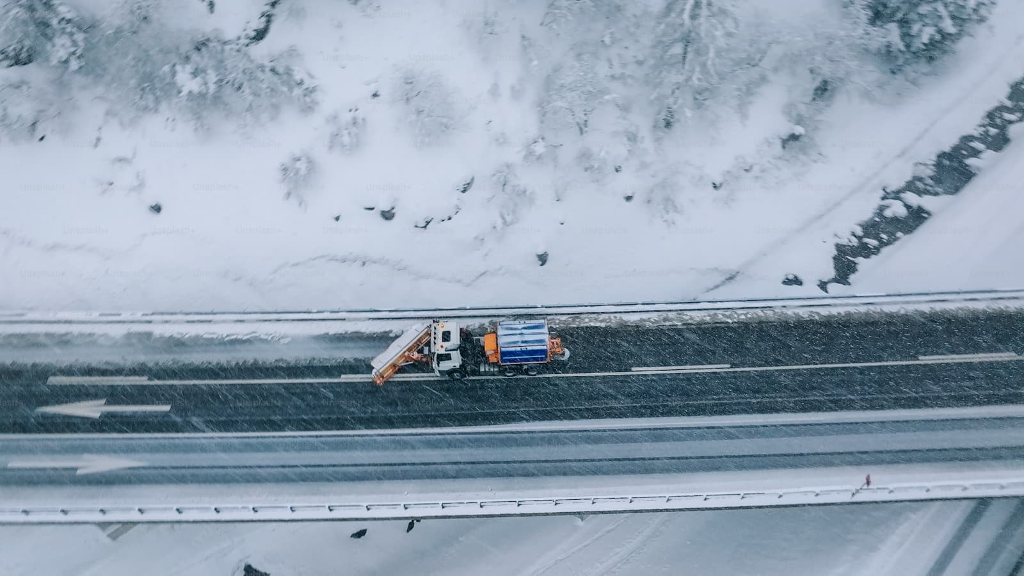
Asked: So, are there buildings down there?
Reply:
No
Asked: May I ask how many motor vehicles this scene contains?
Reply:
1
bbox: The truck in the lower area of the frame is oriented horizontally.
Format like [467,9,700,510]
[370,317,571,389]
